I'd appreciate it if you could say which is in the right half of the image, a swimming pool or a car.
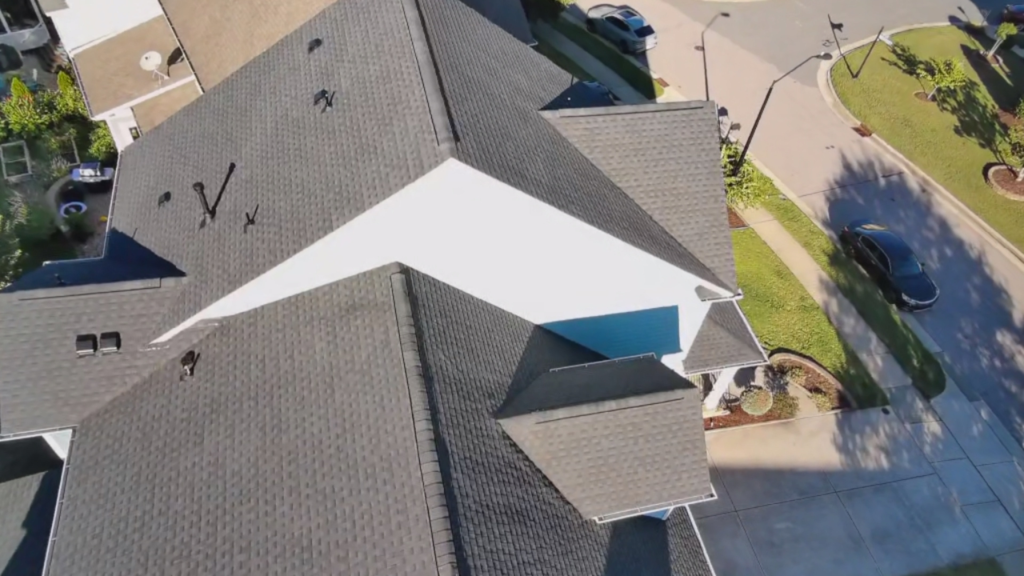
car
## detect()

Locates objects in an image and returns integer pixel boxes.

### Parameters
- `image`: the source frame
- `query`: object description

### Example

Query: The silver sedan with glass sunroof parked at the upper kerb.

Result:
[581,8,656,53]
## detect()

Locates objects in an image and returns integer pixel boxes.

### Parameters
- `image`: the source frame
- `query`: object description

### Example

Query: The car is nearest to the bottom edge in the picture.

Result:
[845,217,941,306]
